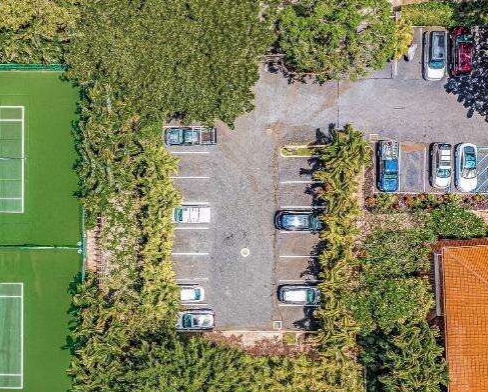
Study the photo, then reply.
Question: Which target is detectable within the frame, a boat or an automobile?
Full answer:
It is an automobile that can be seen here.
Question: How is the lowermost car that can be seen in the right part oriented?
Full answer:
Seen from above, the lowermost car that can be seen in the right part lies from left to right.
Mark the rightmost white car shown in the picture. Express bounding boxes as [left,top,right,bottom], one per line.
[454,145,479,191]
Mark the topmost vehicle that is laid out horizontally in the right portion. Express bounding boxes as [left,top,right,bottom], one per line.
[274,210,323,232]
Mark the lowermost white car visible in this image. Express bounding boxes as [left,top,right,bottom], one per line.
[177,309,217,330]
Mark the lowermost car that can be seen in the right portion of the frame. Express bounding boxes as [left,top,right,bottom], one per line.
[276,286,322,307]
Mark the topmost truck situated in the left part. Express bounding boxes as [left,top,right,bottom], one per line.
[164,125,217,146]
